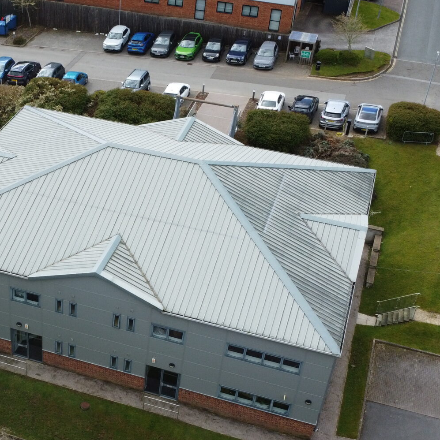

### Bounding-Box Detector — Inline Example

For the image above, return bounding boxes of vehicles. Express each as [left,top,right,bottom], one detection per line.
[225,36,253,65]
[197,36,223,62]
[64,67,89,84]
[173,34,201,60]
[0,54,15,82]
[124,30,152,54]
[257,89,285,106]
[4,61,40,85]
[99,23,130,51]
[148,32,175,57]
[34,58,65,75]
[354,104,384,133]
[159,78,192,105]
[289,93,316,121]
[120,61,152,92]
[321,98,350,128]
[253,42,279,68]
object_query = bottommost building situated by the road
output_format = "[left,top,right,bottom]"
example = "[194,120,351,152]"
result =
[0,104,378,439]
